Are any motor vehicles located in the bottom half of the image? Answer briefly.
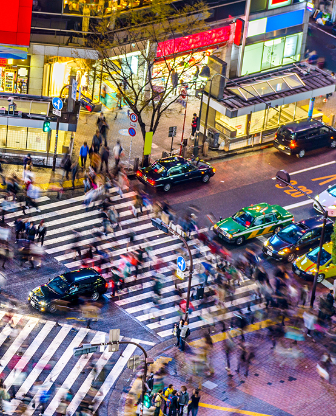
Yes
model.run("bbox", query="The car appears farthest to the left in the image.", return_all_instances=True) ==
[23,263,114,315]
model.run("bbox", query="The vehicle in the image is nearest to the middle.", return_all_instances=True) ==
[137,154,219,193]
